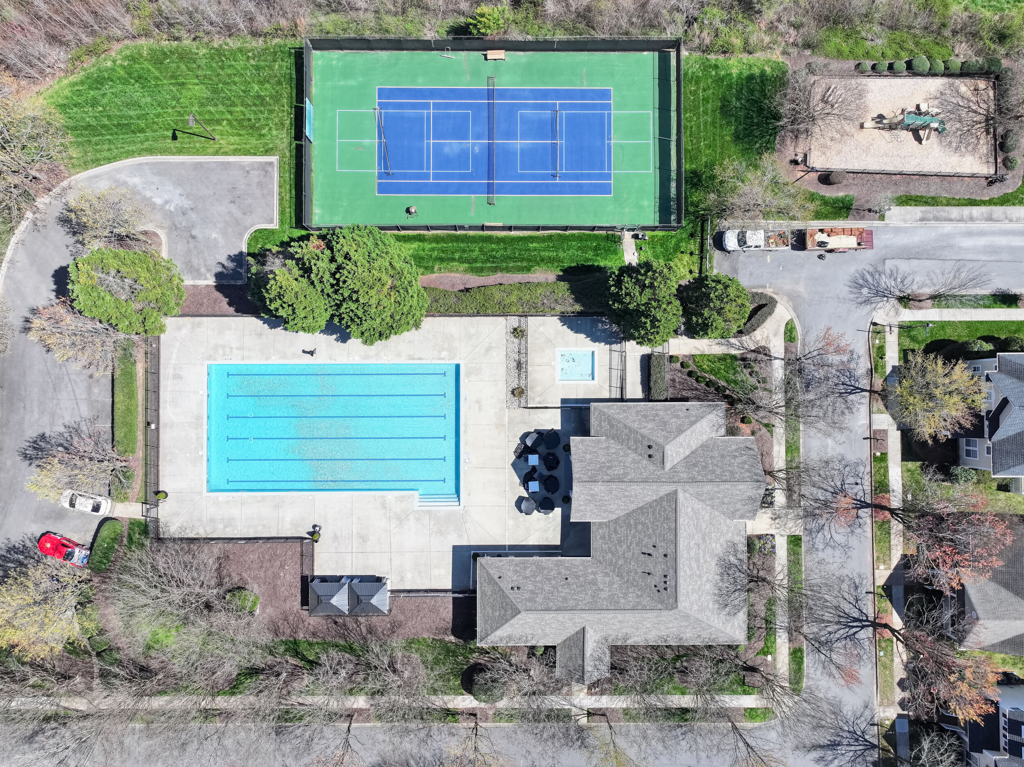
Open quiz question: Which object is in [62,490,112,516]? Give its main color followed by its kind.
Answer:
white car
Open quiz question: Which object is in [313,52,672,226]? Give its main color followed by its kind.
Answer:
green tennis court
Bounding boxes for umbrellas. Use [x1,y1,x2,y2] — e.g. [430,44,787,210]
[517,495,535,514]
[522,431,540,450]
[514,442,527,458]
[540,430,559,449]
[536,496,553,513]
[540,452,559,471]
[540,474,558,492]
[525,466,537,483]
